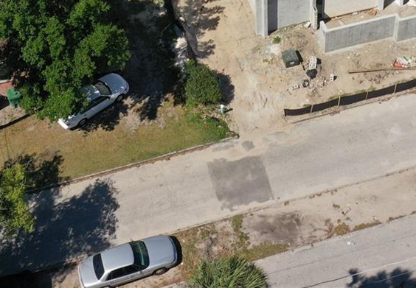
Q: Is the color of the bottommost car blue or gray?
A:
gray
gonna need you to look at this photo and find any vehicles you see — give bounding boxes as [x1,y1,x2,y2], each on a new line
[52,77,137,138]
[75,232,180,288]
